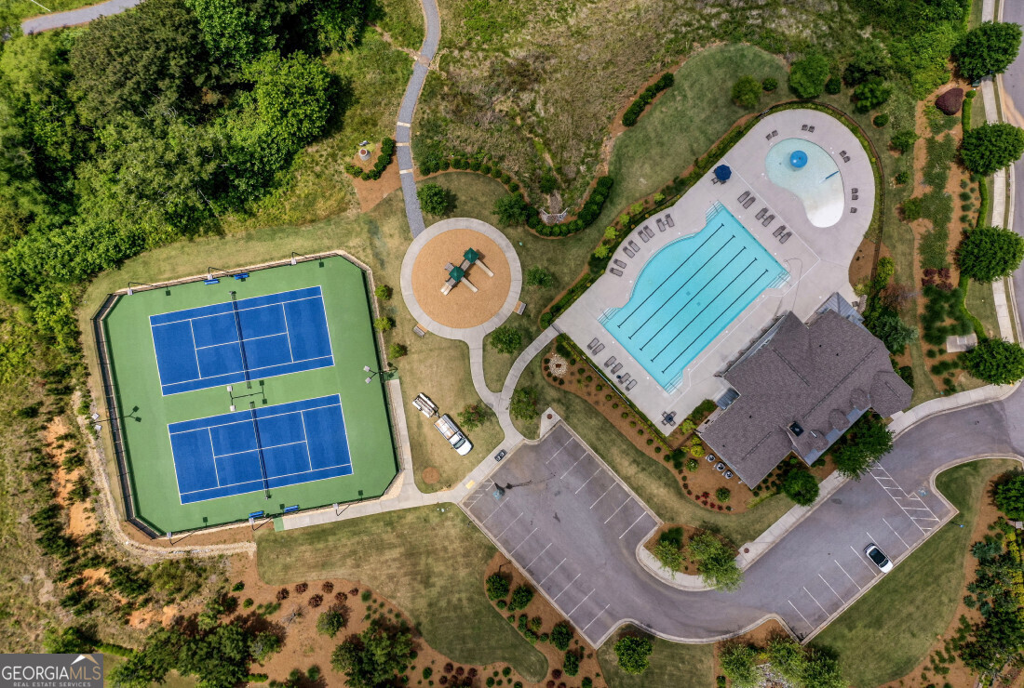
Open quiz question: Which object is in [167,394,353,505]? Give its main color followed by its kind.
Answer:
blue tennis court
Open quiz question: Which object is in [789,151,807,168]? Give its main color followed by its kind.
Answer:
blue fountain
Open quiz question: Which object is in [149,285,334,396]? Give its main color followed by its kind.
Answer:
blue tennis court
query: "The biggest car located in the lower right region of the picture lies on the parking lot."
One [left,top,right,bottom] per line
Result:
[862,542,892,572]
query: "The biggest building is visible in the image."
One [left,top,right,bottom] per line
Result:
[693,292,913,489]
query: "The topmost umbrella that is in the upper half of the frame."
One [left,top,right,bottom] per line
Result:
[714,165,731,181]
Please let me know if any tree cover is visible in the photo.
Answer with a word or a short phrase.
Yes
